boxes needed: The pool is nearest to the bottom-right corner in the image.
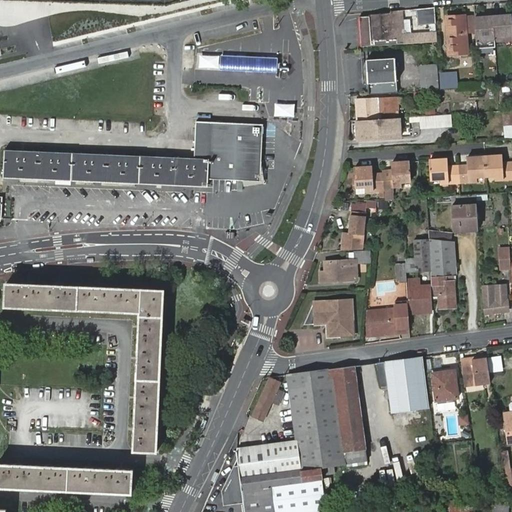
[444,412,460,438]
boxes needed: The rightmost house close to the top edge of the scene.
[468,14,512,54]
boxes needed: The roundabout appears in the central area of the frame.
[231,252,304,327]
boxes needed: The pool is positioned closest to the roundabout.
[376,280,397,294]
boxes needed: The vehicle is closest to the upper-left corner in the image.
[54,60,88,74]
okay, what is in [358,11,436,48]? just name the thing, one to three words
building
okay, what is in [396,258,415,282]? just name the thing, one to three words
shed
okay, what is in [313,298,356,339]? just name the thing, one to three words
house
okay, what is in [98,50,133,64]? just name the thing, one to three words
vehicle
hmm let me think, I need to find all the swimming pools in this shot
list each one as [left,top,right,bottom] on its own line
[444,412,460,438]
[376,280,397,294]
